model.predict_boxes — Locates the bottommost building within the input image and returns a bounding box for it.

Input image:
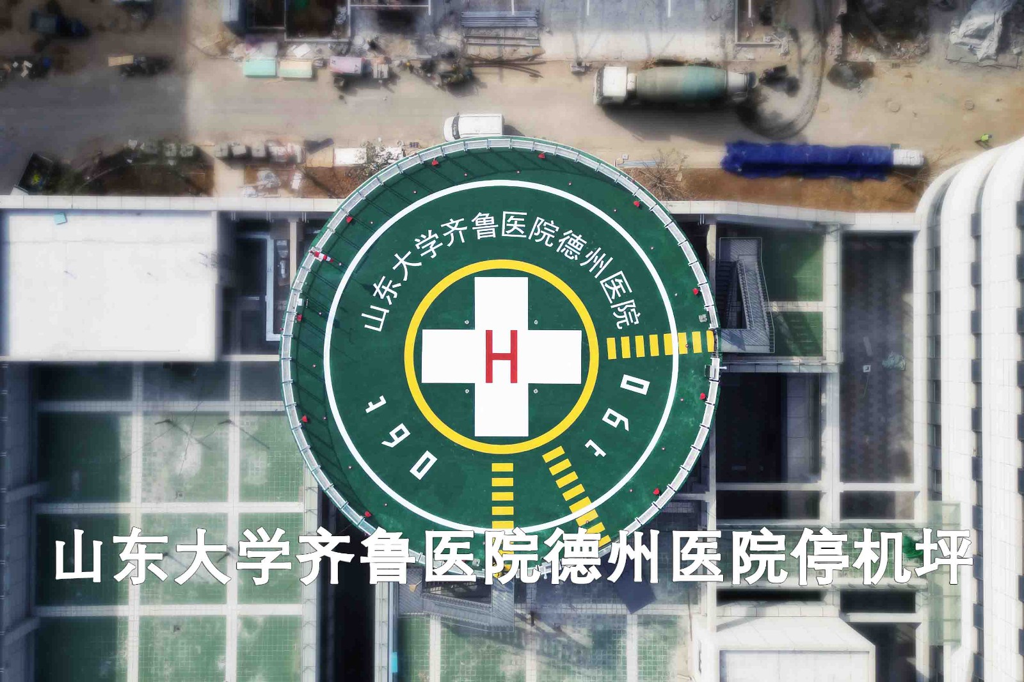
[673,593,875,682]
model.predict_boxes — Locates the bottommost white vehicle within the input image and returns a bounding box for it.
[444,111,504,141]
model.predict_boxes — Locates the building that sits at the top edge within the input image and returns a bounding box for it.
[222,0,254,35]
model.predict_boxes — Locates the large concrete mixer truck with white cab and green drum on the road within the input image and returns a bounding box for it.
[593,64,752,114]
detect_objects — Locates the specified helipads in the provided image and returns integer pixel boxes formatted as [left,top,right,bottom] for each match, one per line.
[279,135,724,579]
